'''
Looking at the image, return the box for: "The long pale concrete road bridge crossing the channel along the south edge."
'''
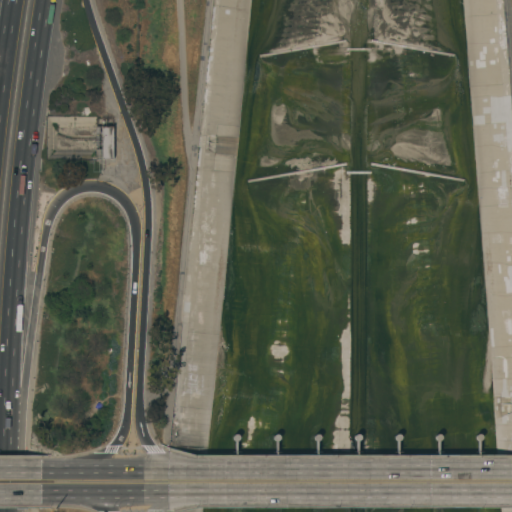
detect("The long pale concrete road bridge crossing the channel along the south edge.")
[162,434,512,508]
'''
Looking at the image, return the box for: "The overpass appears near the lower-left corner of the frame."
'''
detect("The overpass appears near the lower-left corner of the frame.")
[0,456,54,508]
